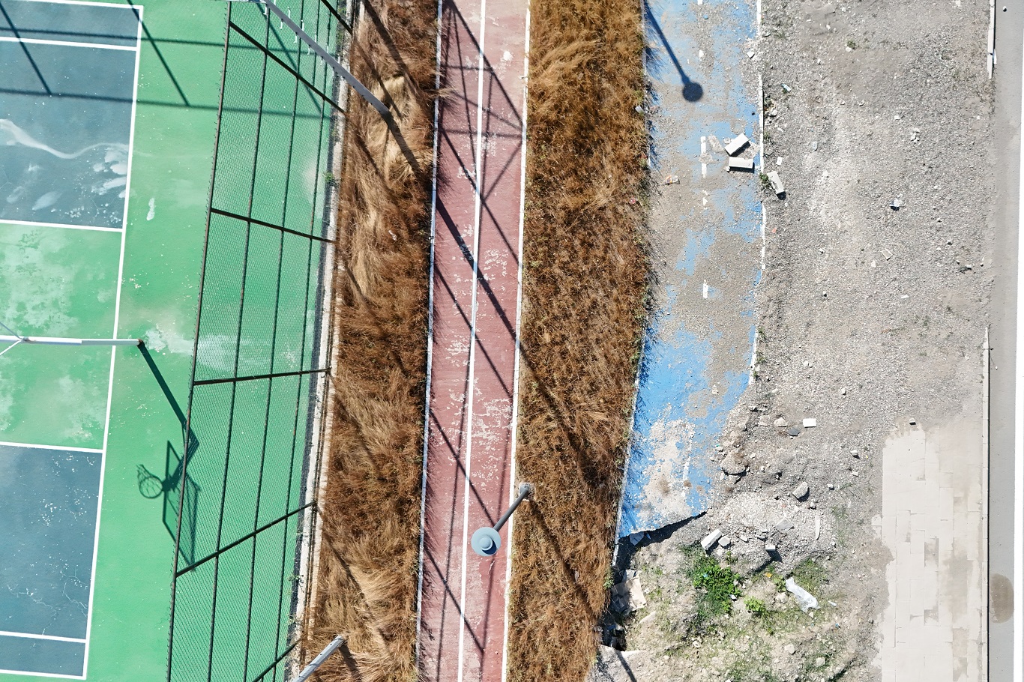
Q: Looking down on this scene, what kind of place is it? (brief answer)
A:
sports ground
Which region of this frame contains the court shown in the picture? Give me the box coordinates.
[0,0,342,682]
